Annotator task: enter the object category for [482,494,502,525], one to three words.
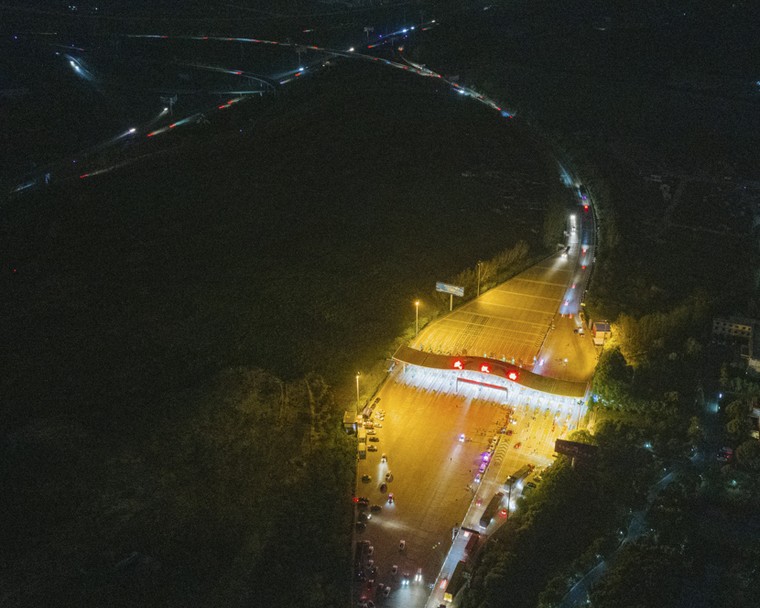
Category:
vehicle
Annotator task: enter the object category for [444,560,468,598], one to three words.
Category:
truck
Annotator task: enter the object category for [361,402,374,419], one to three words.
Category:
vehicle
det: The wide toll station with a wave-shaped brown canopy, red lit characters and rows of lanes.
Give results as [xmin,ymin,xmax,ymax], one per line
[393,344,592,419]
